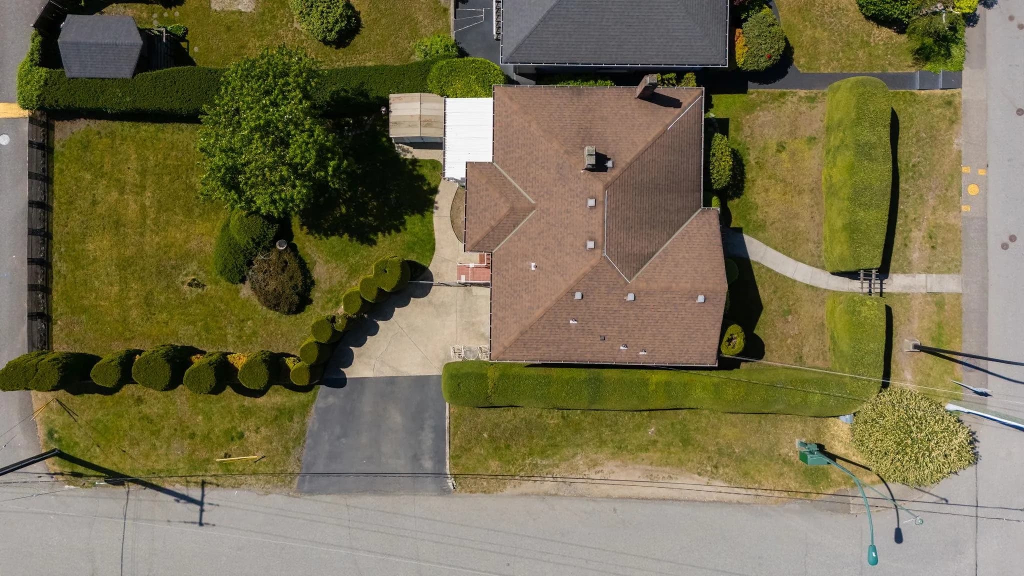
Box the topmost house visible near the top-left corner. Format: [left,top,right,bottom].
[57,14,151,78]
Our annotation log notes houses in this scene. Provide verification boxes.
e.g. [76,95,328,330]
[57,14,151,78]
[462,72,731,365]
[498,0,731,71]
